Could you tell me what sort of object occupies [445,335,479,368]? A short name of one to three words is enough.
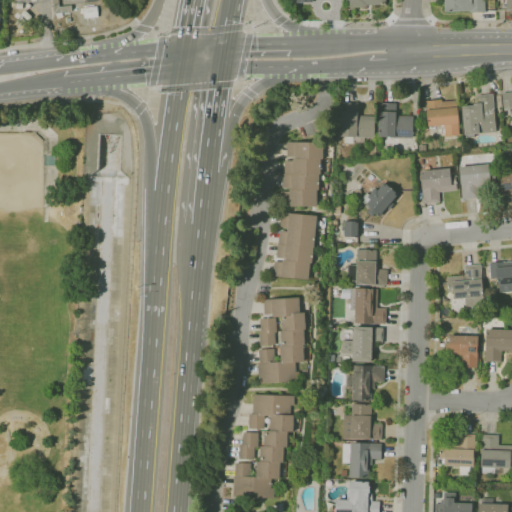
house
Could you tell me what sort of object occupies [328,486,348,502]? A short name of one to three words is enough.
swimming pool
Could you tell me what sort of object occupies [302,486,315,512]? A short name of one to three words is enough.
swimming pool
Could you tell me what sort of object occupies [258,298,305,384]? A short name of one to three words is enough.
building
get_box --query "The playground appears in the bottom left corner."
[0,410,48,492]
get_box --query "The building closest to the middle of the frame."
[276,214,316,279]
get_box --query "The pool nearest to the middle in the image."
[338,250,354,268]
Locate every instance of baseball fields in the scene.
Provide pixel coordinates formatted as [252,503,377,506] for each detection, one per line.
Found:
[0,128,58,222]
